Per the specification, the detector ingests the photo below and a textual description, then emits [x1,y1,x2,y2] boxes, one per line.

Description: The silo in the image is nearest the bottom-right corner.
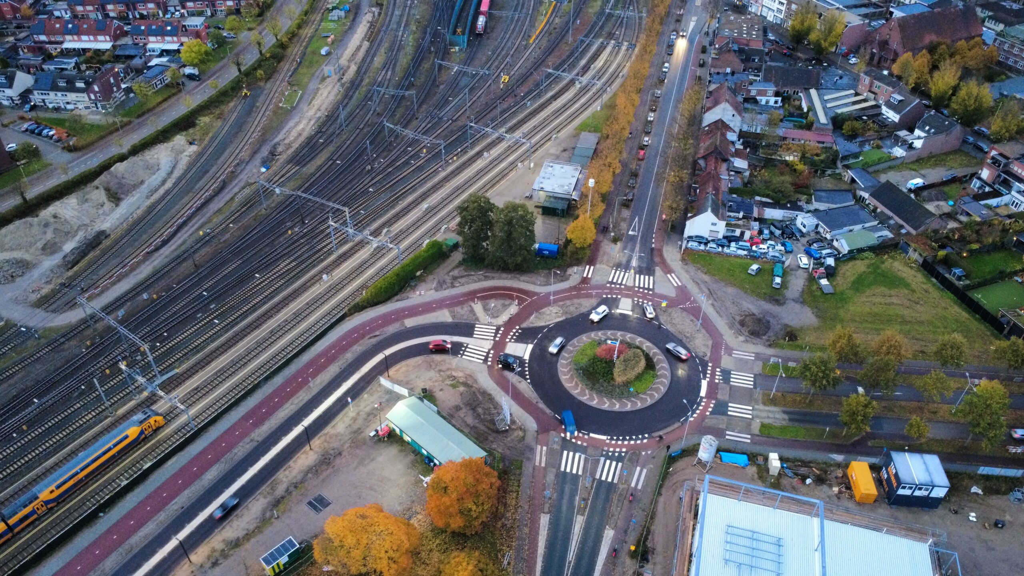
[694,429,723,472]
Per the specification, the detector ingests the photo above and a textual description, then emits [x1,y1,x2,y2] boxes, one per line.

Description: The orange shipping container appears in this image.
[843,462,878,504]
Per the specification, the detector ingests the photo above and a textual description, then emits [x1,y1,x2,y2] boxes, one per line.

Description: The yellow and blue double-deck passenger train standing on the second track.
[0,410,163,540]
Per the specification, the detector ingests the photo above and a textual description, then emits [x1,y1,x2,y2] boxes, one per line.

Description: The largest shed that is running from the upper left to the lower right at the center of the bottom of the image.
[384,395,490,480]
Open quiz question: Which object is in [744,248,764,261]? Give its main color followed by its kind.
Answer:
blue vehicle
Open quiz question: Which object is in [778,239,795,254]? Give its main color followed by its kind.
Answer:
blue car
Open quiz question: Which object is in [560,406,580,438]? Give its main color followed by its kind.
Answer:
blue vehicle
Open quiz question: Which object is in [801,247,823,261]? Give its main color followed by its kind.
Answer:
blue car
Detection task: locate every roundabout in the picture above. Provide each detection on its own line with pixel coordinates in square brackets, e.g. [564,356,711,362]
[498,297,708,440]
